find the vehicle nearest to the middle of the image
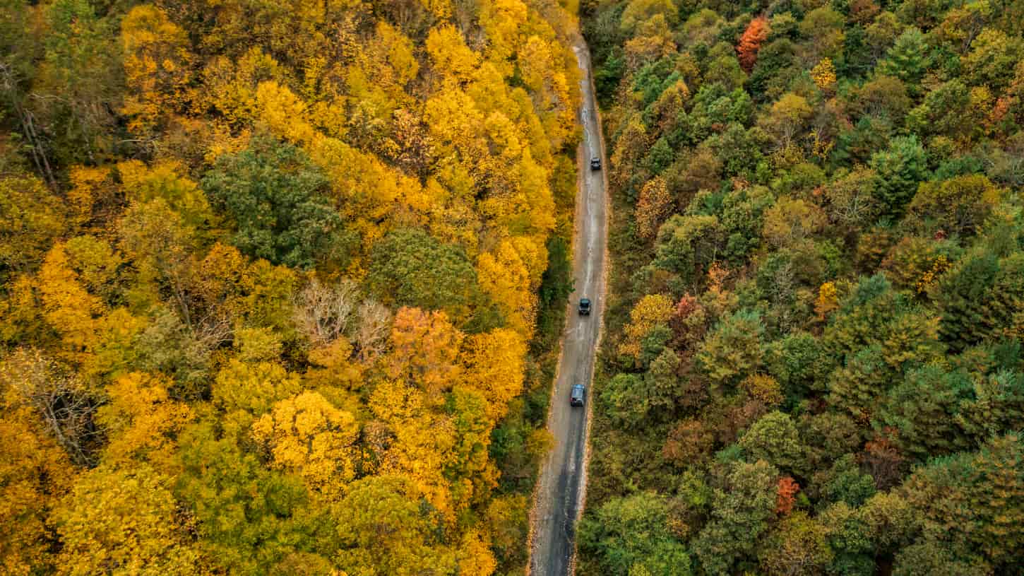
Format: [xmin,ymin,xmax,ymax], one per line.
[578,295,592,316]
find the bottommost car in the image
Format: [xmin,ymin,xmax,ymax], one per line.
[570,385,585,407]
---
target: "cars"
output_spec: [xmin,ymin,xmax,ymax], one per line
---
[570,385,585,407]
[590,155,601,170]
[578,295,592,316]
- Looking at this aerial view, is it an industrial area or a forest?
forest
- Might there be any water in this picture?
No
